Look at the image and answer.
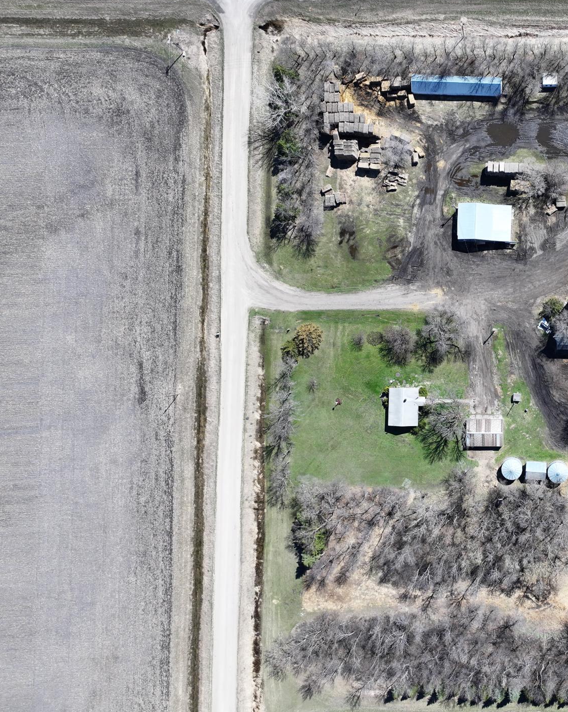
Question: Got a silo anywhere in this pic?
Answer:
Yes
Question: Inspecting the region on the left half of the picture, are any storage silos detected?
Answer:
No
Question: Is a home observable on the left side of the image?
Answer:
No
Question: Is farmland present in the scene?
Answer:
Yes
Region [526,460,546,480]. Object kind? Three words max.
shed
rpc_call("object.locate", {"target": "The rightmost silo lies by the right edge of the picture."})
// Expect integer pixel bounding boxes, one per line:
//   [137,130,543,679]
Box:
[547,459,568,481]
